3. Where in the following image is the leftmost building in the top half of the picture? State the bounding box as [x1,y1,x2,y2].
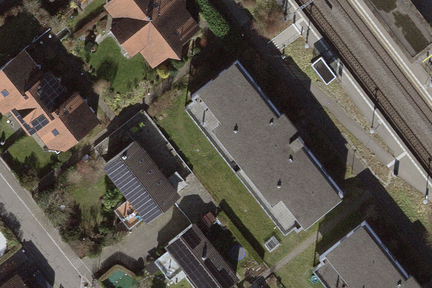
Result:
[0,52,101,160]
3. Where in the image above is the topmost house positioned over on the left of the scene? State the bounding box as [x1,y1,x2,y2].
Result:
[97,0,210,79]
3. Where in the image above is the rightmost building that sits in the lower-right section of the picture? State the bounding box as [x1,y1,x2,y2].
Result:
[314,218,424,288]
